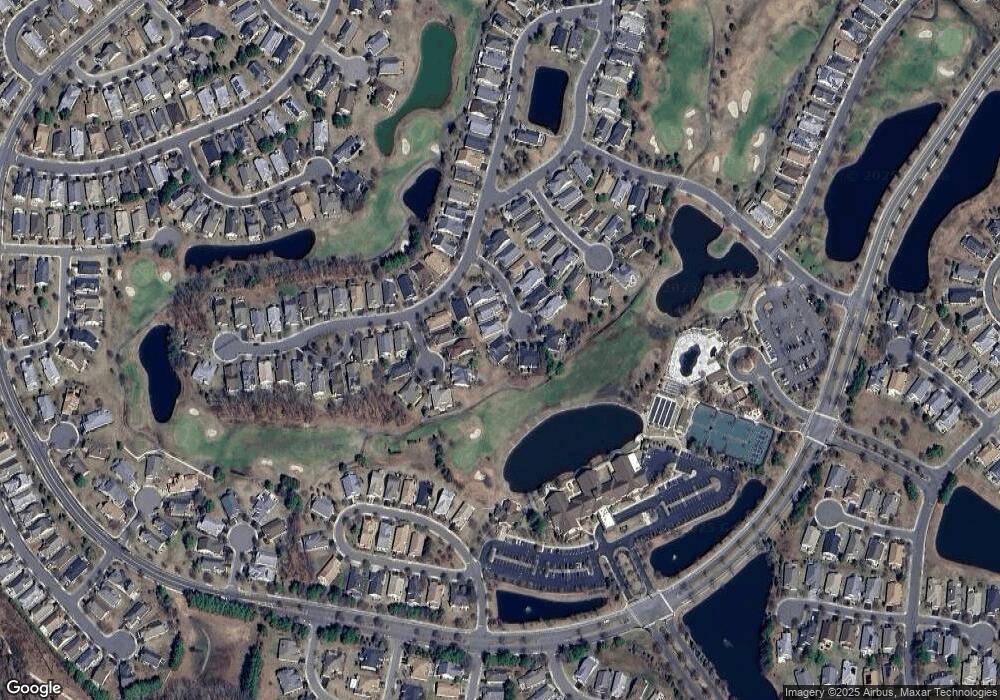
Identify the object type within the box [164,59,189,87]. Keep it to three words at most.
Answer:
house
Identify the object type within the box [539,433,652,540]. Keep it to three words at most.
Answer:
building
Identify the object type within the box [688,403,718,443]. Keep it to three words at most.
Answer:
tennis court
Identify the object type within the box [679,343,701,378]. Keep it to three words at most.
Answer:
swimming pool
